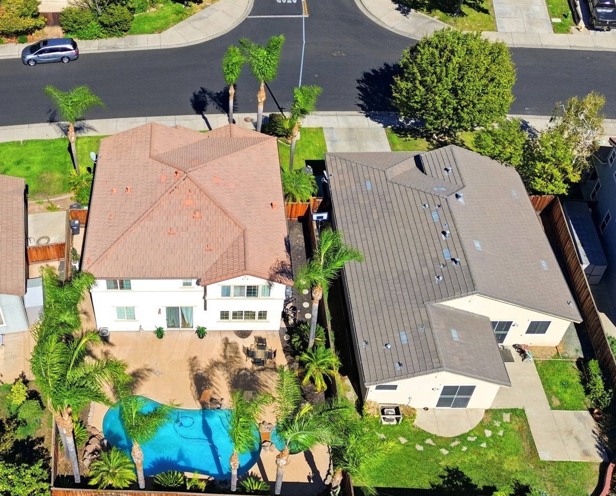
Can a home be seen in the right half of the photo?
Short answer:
Yes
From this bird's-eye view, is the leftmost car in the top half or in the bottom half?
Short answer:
top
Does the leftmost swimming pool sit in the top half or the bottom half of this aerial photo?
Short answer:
bottom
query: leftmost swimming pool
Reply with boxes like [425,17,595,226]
[98,391,265,484]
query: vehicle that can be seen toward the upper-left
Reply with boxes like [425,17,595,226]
[21,38,79,69]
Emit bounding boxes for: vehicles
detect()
[21,38,79,69]
[586,0,616,26]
